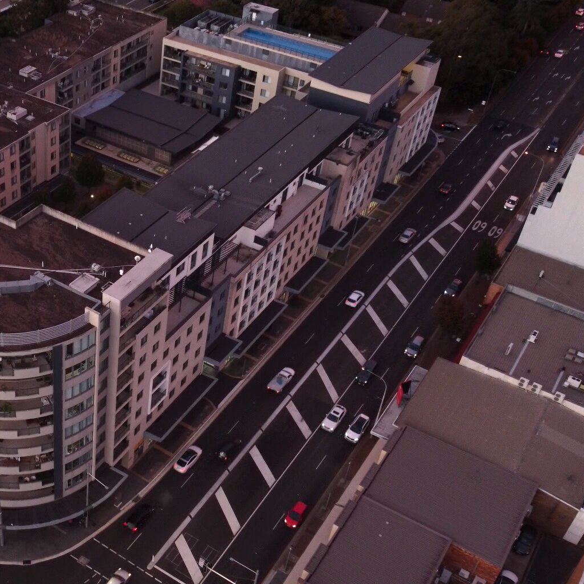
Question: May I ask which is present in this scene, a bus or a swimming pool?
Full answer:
This aerial view contains a swimming pool.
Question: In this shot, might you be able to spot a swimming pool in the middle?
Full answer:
No, no swimming pool appears in the middle.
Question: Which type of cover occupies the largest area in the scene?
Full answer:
The bulk of the photo consists of buildings.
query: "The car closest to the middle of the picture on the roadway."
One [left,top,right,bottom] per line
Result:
[344,290,366,310]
